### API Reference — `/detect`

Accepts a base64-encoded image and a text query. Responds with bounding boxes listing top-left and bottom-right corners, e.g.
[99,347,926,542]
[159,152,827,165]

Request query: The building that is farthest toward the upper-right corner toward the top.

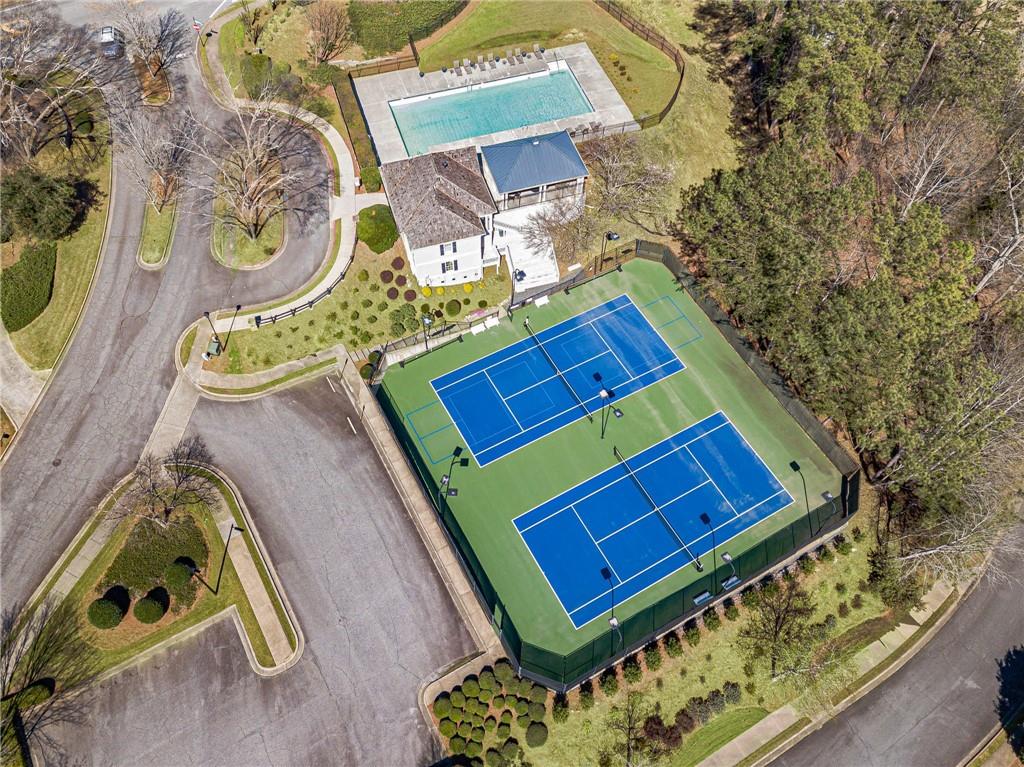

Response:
[480,131,589,210]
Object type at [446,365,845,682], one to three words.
tennis court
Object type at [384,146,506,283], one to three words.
house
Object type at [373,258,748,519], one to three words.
tennis court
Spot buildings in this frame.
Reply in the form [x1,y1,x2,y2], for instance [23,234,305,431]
[480,131,589,210]
[384,146,506,283]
